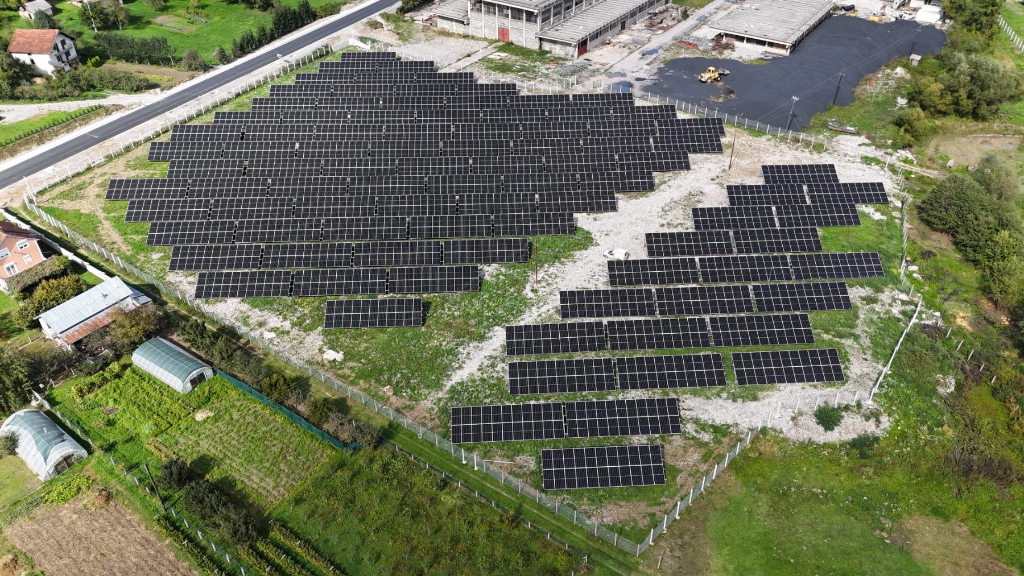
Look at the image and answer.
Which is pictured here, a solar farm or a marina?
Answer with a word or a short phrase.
solar farm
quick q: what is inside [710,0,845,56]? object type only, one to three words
shed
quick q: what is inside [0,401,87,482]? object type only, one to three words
greenhouse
